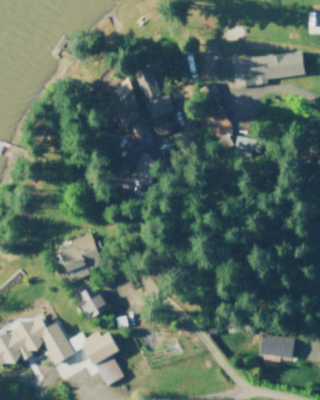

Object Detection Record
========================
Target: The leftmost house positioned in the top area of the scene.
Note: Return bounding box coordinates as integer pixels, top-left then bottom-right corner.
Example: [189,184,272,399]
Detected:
[110,74,144,140]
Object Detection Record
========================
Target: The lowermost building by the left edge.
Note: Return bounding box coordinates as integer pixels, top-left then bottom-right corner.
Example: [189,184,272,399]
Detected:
[0,312,74,368]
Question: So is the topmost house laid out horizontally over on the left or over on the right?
right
